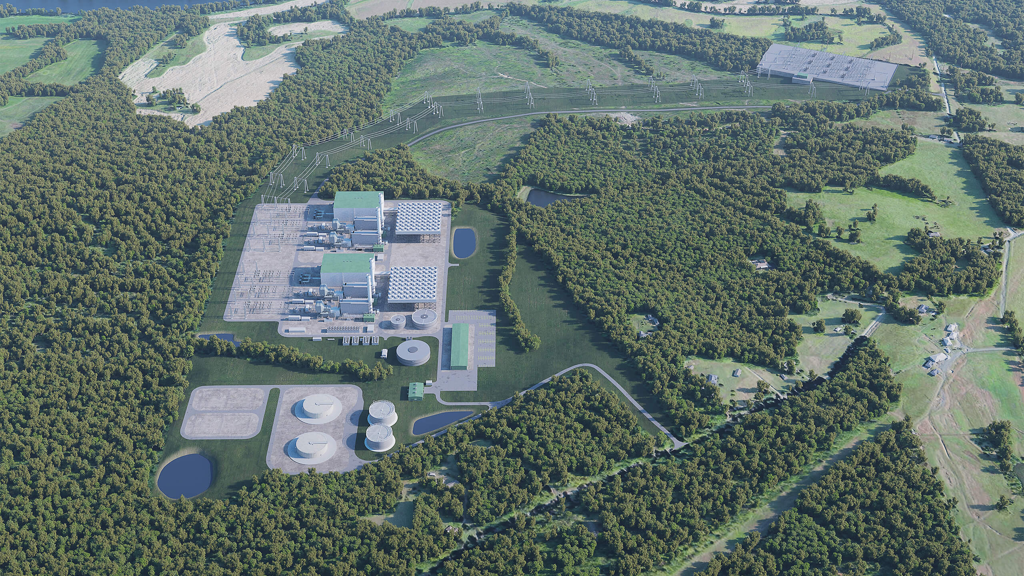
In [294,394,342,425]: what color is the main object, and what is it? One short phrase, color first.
white storage tank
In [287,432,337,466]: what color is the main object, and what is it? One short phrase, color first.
white storage tank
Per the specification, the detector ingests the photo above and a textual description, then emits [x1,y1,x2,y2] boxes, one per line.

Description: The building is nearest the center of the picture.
[450,322,469,370]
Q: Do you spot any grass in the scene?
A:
Yes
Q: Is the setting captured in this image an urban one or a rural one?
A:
rural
